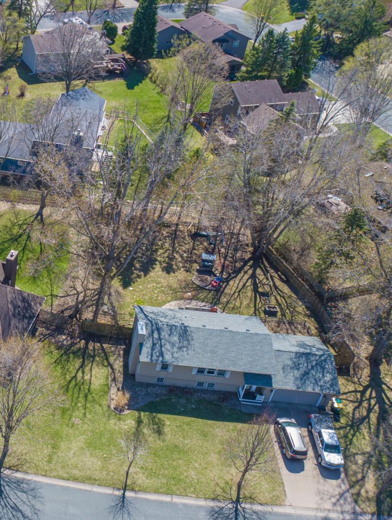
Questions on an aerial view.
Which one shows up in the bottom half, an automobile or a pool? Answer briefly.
automobile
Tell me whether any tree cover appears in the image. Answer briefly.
Yes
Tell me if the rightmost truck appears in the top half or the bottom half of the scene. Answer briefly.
bottom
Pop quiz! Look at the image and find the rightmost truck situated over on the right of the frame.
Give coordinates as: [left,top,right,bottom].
[308,412,346,470]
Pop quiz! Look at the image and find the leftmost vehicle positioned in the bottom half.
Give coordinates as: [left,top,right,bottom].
[274,414,313,458]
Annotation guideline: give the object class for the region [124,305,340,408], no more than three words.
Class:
house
